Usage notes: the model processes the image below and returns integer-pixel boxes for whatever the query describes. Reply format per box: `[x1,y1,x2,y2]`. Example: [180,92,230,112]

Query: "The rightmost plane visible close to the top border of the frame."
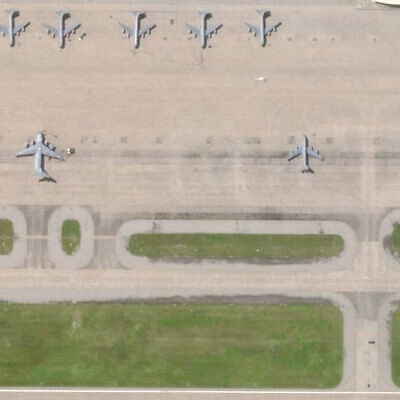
[244,9,281,47]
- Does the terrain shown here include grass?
Yes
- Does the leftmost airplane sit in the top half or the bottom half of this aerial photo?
top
